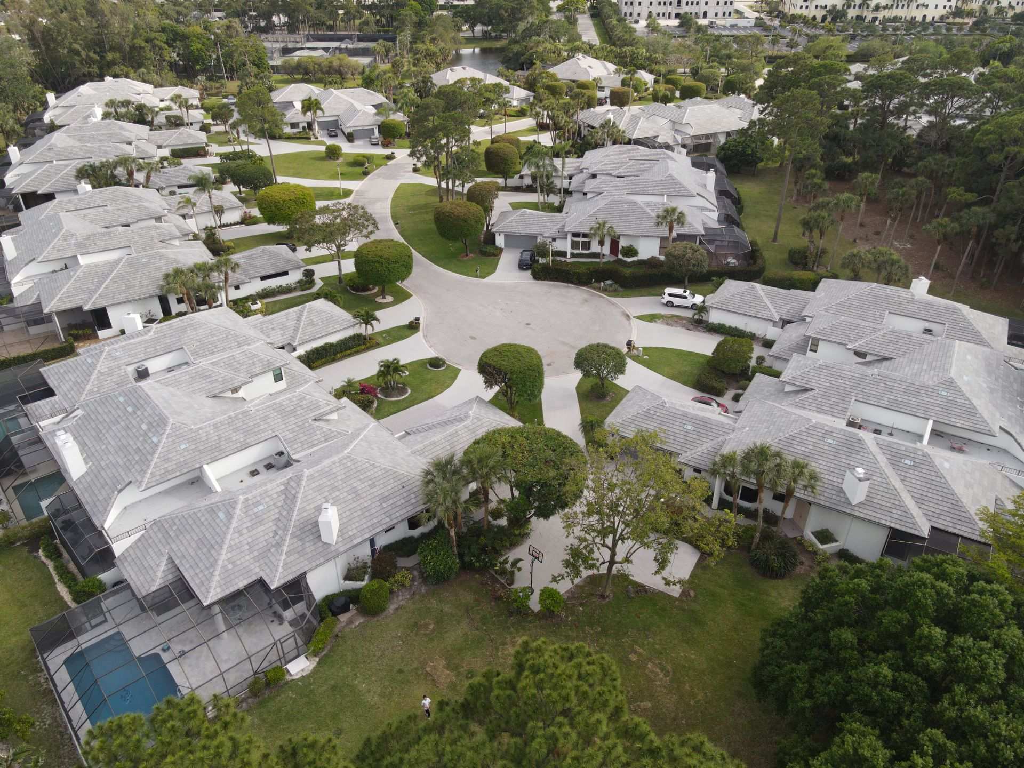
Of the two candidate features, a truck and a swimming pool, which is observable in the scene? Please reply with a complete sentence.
Looking from above, you can make out a swimming pool.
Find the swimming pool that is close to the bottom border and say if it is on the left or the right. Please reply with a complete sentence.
The swimming pool that is close to the bottom border appears in the left half of the scene.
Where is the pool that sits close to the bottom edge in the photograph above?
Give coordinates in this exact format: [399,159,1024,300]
[63,632,194,764]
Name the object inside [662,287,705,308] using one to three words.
car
